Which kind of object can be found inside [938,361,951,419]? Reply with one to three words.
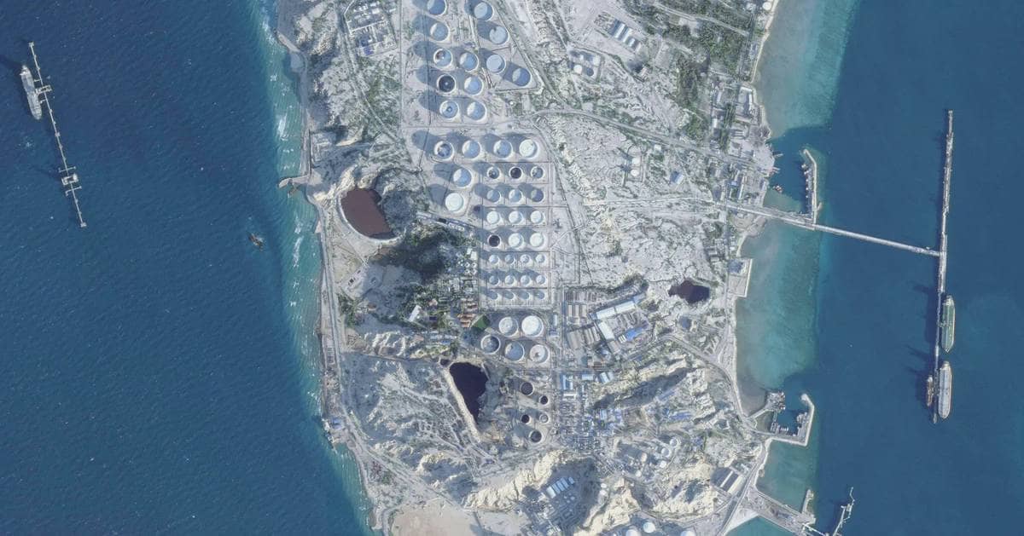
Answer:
ship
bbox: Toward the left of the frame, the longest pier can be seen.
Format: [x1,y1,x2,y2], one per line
[28,41,86,227]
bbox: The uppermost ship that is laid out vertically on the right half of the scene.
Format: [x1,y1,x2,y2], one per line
[942,296,955,352]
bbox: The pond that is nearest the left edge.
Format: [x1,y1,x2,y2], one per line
[339,184,397,241]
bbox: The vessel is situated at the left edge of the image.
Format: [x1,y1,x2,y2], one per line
[18,65,40,119]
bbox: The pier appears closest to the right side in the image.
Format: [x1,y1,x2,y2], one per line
[933,110,953,420]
